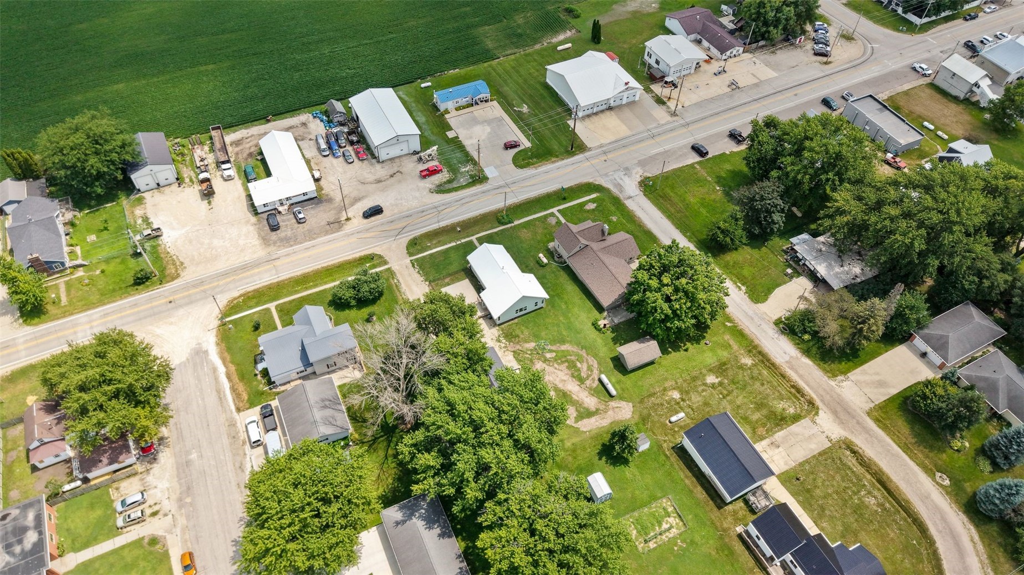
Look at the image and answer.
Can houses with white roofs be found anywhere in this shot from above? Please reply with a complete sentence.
Yes, the picture does show a house with a white roof.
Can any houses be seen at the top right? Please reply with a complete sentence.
Yes, I can see a house at the top right.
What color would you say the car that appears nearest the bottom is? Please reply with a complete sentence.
The car that appears nearest the bottom looks orange in the image.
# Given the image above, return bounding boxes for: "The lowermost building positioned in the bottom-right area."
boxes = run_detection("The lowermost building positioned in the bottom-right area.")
[749,502,898,575]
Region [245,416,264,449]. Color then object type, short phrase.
white car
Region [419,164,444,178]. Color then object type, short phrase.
red vehicle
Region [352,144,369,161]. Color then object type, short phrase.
red vehicle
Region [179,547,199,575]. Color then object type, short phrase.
orange car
